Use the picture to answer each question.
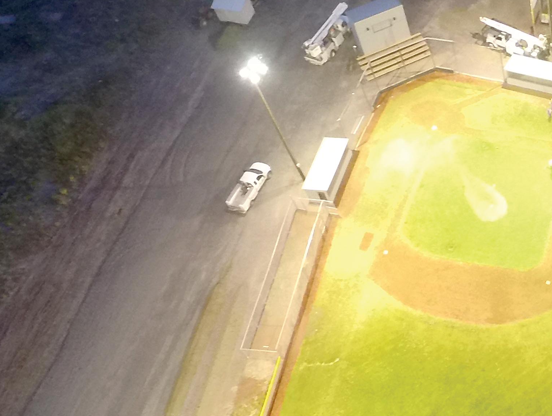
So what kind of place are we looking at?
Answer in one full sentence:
This looks like a sports ground.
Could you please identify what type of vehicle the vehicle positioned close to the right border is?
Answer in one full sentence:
It turns out the vehicle positioned close to the right border is a truck.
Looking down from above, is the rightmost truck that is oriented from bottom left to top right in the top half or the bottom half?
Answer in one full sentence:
It is in the top half that the rightmost truck that is oriented from bottom left to top right appears.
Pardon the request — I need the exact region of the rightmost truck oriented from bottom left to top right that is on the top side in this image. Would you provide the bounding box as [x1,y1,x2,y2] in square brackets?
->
[306,0,352,63]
